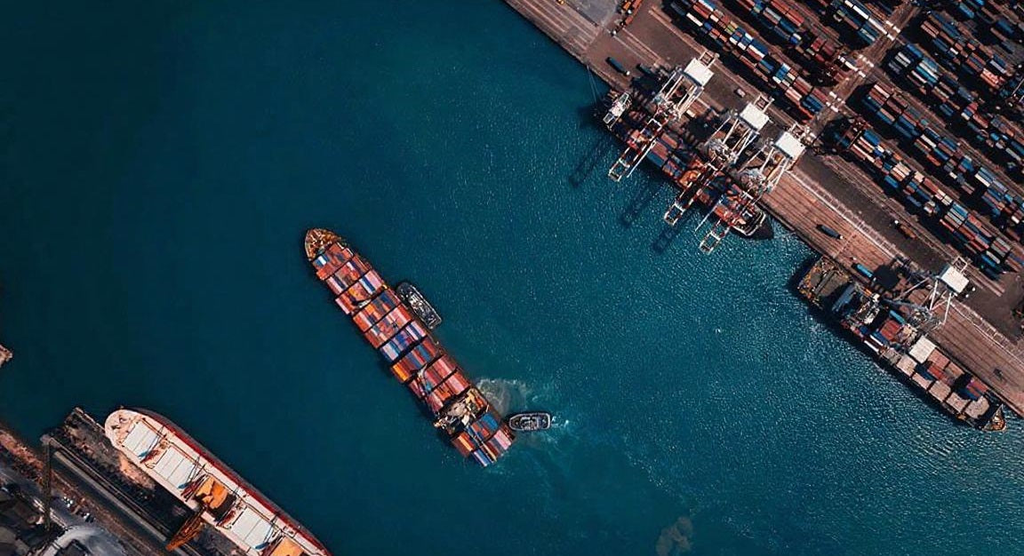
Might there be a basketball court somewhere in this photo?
No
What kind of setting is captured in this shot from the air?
port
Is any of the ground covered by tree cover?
No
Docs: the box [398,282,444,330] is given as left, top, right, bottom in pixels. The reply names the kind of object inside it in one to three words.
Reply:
boat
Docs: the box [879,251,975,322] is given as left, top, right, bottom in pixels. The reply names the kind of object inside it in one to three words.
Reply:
container crane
